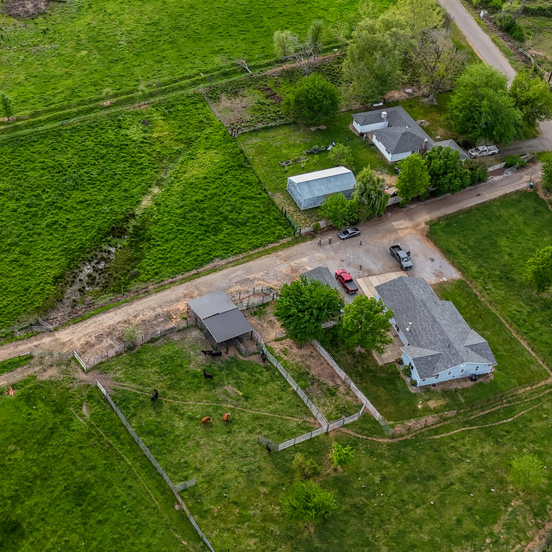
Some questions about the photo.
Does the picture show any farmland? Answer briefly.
Yes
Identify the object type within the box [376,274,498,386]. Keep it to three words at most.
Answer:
house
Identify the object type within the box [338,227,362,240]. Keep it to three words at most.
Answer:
vehicle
